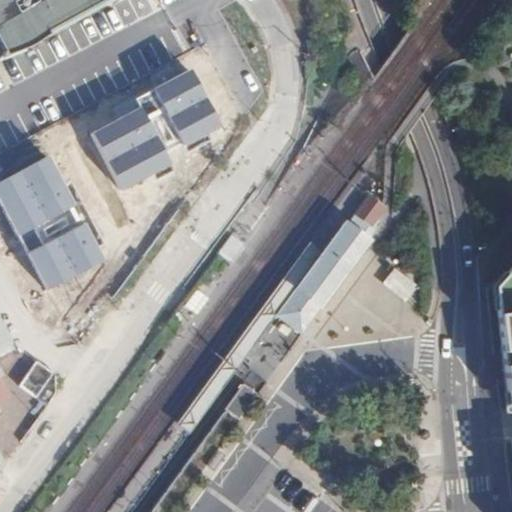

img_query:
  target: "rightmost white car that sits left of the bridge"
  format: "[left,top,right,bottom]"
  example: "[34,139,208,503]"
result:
[244,70,258,91]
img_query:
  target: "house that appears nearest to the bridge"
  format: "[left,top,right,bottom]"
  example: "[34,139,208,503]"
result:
[356,193,390,228]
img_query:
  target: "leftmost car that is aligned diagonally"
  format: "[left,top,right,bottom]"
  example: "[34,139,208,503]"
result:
[5,56,22,78]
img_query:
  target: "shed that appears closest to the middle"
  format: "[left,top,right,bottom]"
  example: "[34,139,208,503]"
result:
[220,234,246,262]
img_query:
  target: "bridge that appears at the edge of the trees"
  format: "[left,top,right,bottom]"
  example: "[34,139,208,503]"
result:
[350,32,457,144]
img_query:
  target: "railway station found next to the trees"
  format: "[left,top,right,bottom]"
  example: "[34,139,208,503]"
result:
[48,129,391,512]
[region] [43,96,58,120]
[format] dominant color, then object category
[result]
white car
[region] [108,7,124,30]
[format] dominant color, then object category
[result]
white car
